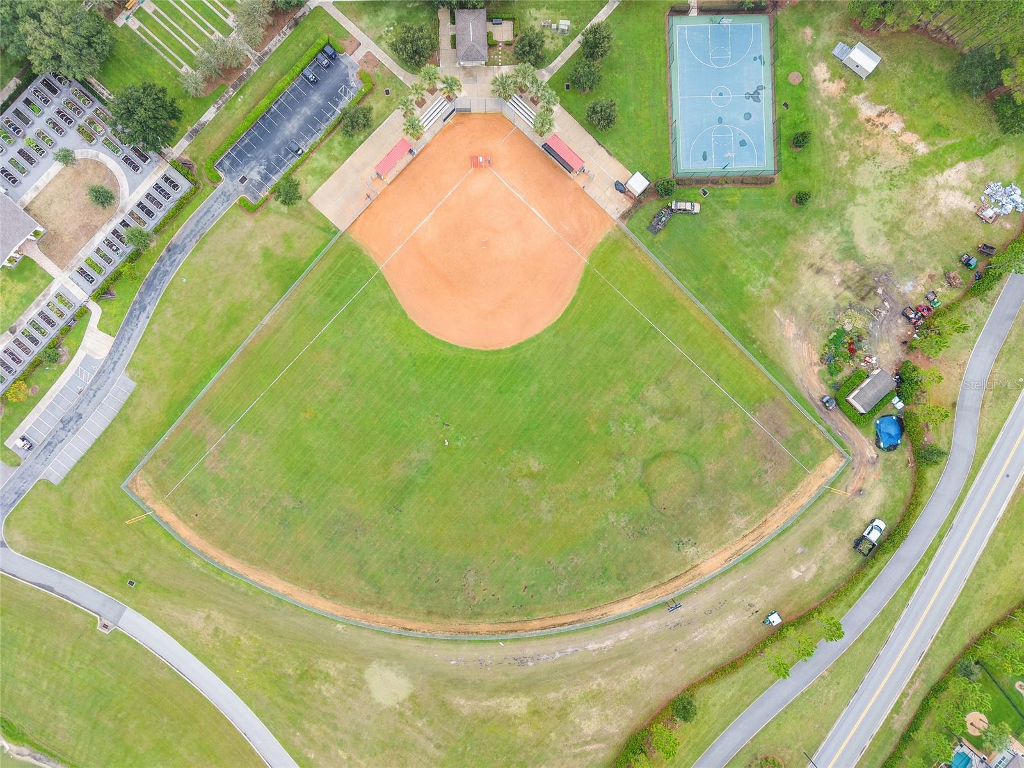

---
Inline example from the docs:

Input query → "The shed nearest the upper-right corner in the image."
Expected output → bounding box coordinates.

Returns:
[843,42,880,77]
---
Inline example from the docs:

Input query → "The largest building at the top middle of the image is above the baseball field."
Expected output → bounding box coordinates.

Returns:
[455,8,488,67]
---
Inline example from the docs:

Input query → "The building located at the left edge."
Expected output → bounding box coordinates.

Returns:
[0,192,47,284]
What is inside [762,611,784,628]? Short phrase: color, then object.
white work vehicle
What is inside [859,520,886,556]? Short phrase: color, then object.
white truck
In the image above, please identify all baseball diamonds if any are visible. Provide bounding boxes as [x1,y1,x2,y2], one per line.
[130,114,845,636]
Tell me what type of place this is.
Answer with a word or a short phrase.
sports ground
